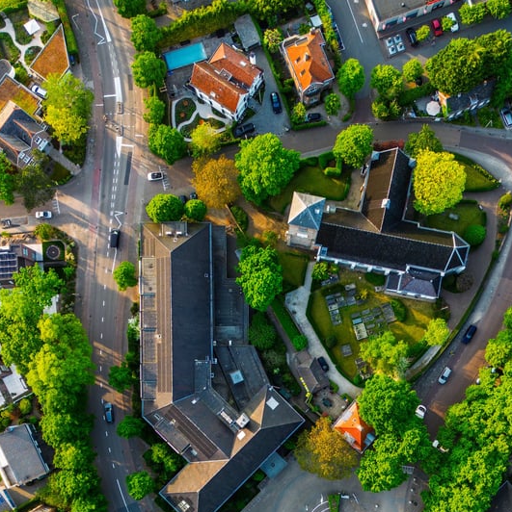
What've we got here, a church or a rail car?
church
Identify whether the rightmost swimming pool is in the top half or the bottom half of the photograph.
top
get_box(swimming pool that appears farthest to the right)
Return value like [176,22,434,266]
[166,44,205,66]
